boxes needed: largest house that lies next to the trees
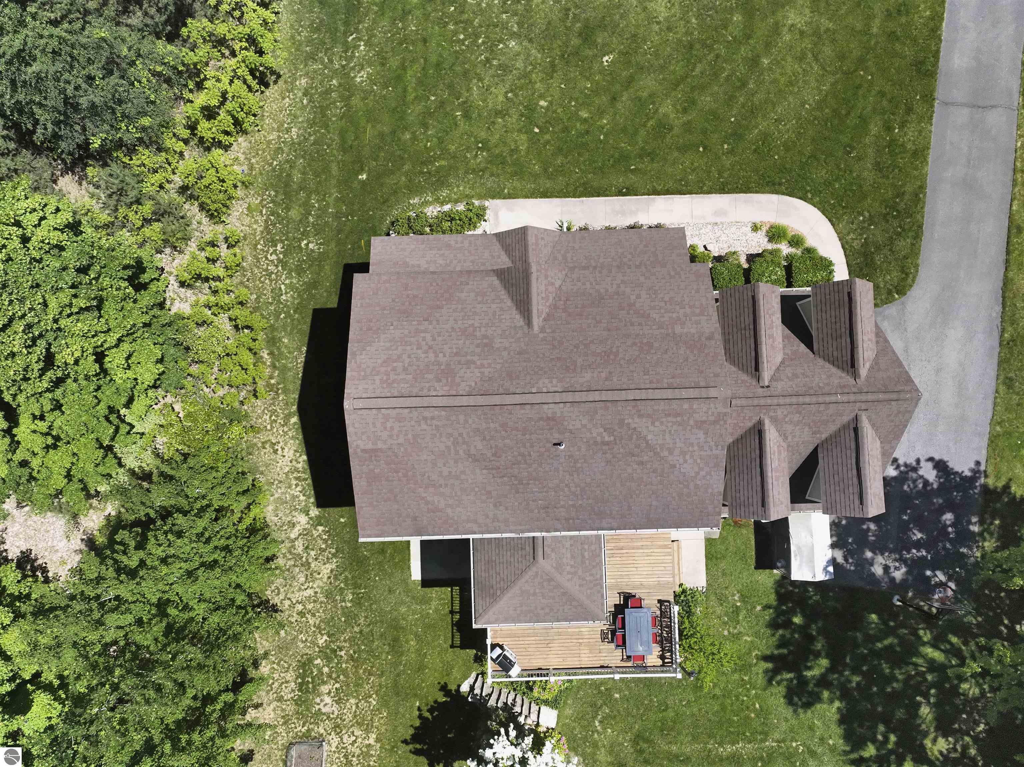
[345,219,922,629]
